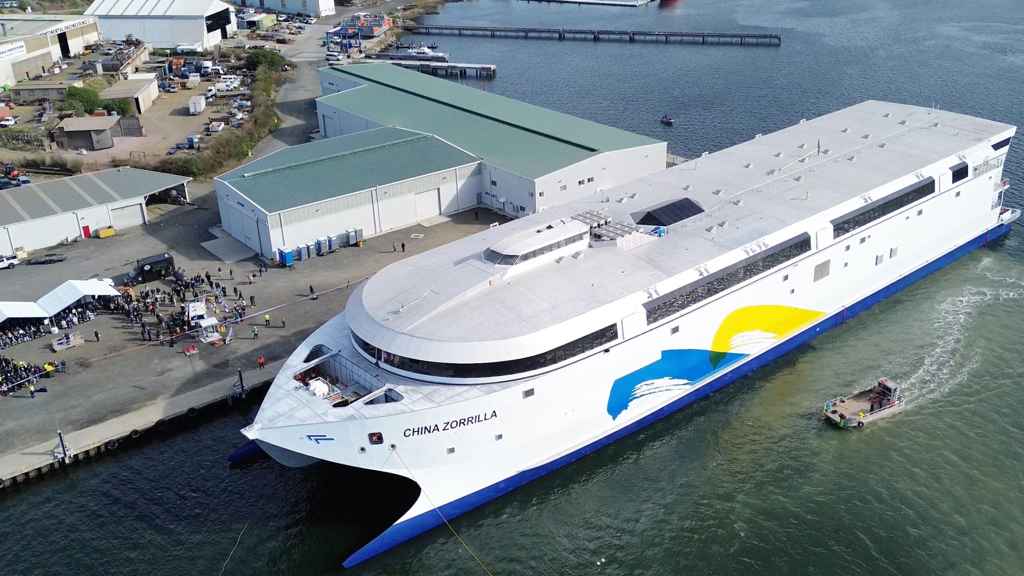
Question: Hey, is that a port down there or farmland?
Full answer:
It's a port.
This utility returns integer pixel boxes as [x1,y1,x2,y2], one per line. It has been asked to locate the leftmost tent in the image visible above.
[0,302,52,327]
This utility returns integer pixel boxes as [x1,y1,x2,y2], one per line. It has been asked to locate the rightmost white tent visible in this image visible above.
[37,282,126,326]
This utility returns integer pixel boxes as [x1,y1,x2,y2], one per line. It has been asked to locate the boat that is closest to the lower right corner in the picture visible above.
[820,372,908,428]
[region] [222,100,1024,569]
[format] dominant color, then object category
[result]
white ship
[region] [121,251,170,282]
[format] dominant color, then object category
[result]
black truck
